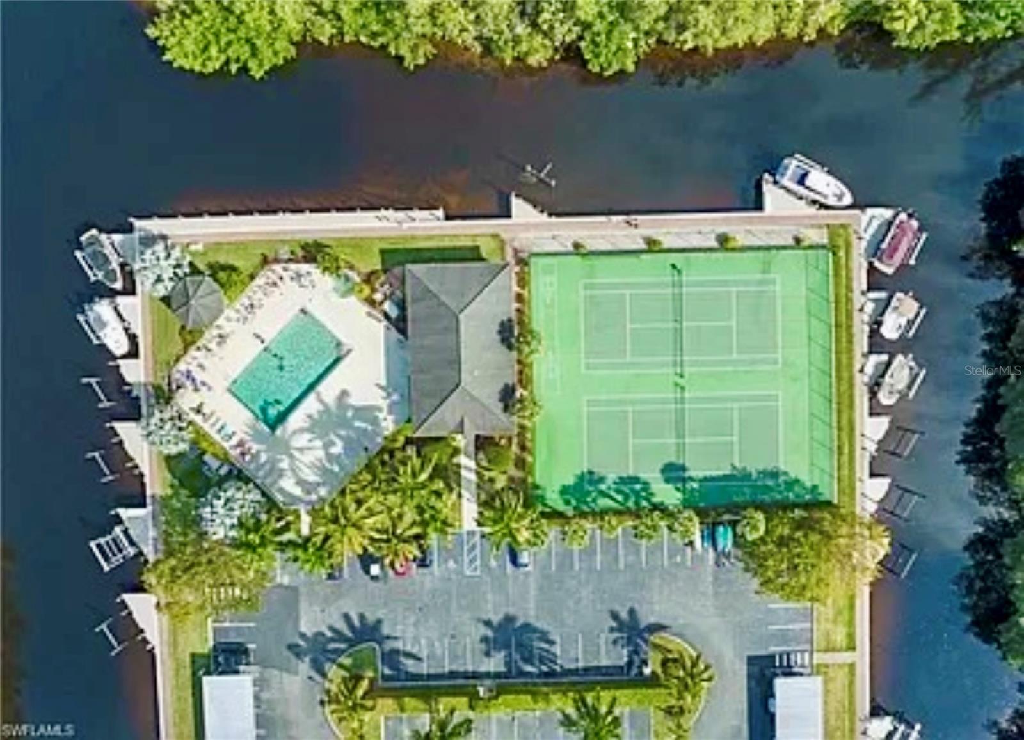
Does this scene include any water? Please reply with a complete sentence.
Yes, there is water in the image.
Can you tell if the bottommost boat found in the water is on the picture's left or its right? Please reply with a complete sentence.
The bottommost boat found in the water appears in the right half of the scene.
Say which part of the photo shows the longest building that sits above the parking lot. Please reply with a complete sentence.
The longest building that sits above the parking lot sits in the center section of the image.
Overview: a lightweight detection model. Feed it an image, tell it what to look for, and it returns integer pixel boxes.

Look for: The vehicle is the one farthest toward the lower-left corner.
[212,650,253,672]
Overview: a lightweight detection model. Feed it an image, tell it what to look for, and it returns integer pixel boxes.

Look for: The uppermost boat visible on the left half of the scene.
[81,227,123,288]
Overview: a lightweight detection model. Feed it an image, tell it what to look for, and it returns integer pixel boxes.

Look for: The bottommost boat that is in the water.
[879,351,916,405]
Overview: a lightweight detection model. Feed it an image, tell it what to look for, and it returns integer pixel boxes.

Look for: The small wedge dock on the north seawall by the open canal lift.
[511,189,551,220]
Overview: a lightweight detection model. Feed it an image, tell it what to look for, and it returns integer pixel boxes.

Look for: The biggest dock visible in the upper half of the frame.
[128,205,444,234]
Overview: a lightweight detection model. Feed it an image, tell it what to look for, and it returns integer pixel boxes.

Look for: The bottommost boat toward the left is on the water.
[86,293,128,356]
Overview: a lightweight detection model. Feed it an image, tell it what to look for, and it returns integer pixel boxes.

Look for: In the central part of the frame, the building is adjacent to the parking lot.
[404,261,516,455]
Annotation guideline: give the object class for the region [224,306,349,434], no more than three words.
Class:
swimming pool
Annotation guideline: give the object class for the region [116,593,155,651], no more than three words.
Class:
pier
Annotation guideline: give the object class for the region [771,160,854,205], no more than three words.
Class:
boat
